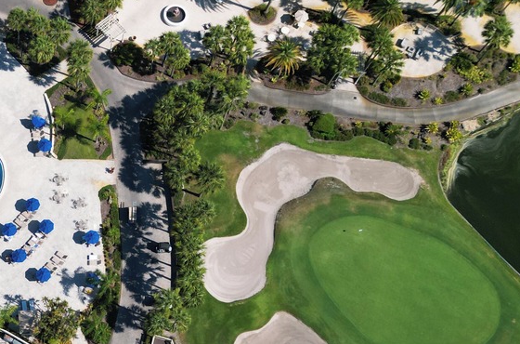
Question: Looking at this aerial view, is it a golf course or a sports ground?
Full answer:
The area seen from above is a golf course.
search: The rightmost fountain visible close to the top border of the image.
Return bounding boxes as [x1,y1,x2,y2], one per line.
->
[162,3,186,26]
